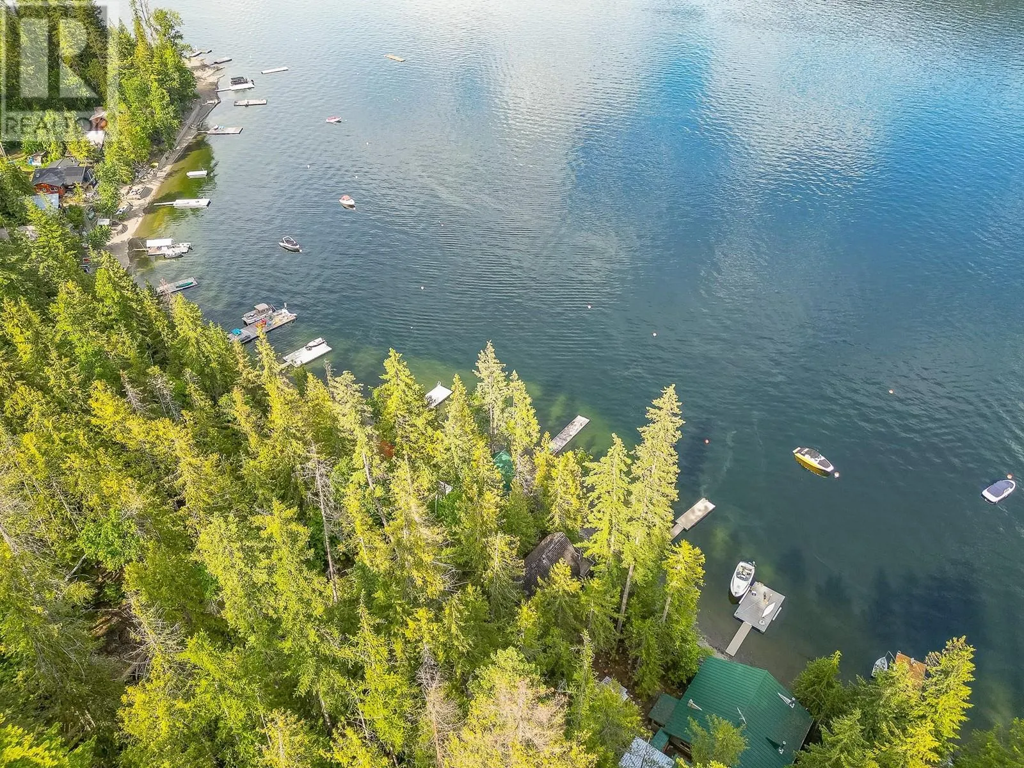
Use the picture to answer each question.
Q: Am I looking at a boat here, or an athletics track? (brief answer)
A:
boat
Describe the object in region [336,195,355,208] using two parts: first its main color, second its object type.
white boat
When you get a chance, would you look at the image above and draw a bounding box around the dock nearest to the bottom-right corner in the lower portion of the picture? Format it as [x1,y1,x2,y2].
[888,651,929,687]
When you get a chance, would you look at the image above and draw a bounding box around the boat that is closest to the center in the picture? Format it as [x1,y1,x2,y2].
[307,335,327,348]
